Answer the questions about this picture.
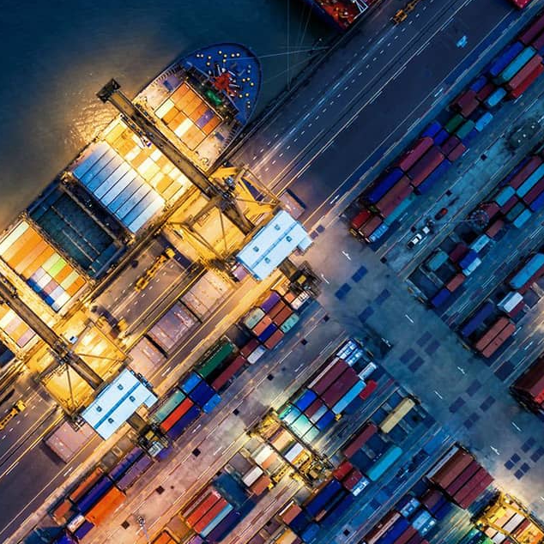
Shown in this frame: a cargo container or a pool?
cargo container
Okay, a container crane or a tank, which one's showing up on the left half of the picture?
container crane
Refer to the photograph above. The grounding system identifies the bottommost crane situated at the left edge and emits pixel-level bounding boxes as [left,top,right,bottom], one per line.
[0,263,157,440]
